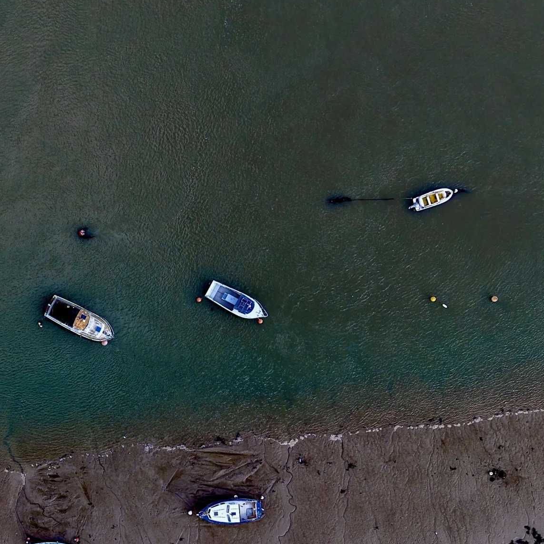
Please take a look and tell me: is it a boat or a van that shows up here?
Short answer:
boat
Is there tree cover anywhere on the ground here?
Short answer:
No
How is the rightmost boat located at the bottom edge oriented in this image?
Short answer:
horizontally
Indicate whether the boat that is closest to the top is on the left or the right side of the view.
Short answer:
right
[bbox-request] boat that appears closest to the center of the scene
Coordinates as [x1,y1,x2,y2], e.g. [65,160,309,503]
[205,281,268,318]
